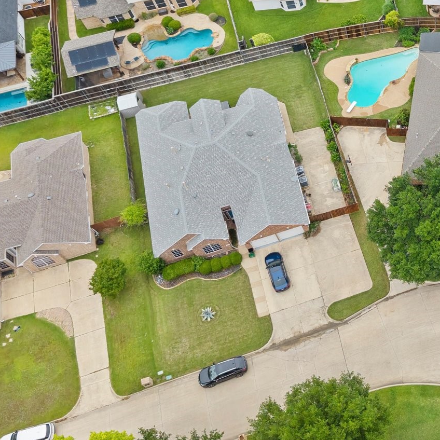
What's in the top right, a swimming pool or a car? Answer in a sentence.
The feature located in the top right is a swimming pool.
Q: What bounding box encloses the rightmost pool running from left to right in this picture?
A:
[139,26,216,61]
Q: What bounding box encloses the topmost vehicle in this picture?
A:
[264,250,293,296]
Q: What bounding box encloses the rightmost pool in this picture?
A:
[346,46,419,109]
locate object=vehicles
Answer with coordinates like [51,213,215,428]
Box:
[1,419,59,440]
[264,250,293,296]
[197,353,253,390]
